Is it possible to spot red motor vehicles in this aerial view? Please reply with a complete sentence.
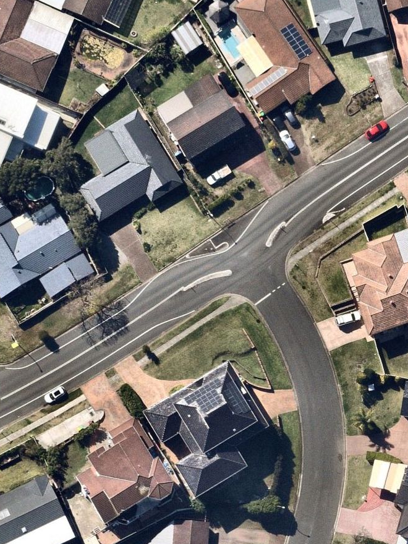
Yes, looking at the shot, I can spot a red motor vehicle.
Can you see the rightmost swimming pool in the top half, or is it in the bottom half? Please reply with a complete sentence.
It is in the top half that the rightmost swimming pool appears.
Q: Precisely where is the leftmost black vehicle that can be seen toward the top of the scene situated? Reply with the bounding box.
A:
[219,72,238,96]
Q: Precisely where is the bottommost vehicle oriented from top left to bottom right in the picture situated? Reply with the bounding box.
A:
[278,128,298,152]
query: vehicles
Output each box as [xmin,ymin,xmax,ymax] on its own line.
[269,106,289,130]
[278,128,298,152]
[283,104,300,130]
[335,313,362,325]
[219,72,238,96]
[44,385,68,404]
[364,122,388,139]
[205,165,233,186]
